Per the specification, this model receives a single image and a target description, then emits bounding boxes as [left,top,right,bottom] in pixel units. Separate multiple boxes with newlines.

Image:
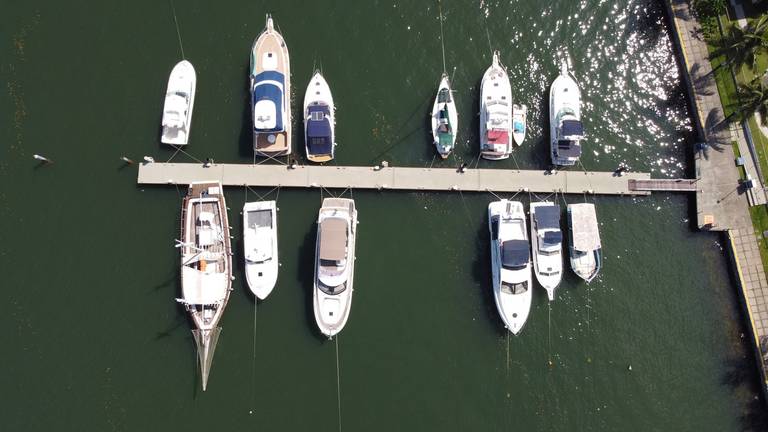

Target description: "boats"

[476,53,512,165]
[250,20,296,161]
[527,201,563,304]
[430,73,460,160]
[303,68,338,164]
[513,103,526,146]
[564,204,602,281]
[548,62,590,170]
[161,58,200,147]
[488,200,532,337]
[312,200,360,344]
[244,201,282,298]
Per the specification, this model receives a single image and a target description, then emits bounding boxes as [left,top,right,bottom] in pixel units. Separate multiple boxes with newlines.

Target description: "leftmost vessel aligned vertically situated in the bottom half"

[175,181,237,390]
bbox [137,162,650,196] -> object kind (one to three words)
pier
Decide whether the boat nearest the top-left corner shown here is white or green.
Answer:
white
